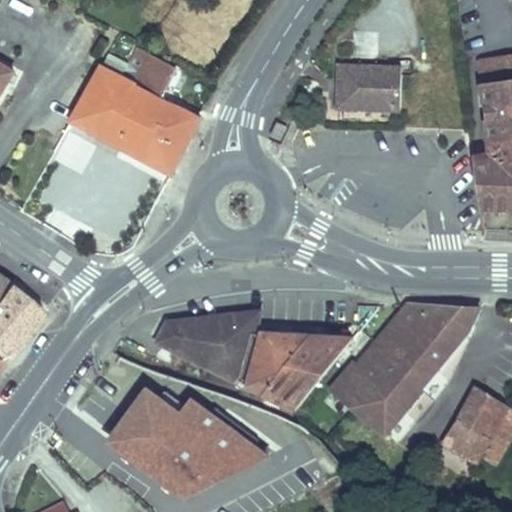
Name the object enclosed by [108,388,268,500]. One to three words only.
building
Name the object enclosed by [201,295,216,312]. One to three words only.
car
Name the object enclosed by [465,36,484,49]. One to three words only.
vehicle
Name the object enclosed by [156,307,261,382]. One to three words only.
house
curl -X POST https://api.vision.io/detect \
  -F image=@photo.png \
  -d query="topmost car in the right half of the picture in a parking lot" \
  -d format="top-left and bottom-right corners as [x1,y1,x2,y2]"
[461,10,480,23]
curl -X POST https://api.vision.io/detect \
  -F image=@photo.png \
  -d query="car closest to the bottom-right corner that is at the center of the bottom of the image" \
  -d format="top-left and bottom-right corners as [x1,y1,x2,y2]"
[295,466,314,486]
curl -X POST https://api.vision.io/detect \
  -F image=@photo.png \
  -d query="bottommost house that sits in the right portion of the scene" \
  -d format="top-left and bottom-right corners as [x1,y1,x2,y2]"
[442,386,512,466]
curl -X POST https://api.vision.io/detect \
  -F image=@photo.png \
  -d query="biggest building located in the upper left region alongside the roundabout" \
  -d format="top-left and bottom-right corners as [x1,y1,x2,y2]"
[70,63,201,180]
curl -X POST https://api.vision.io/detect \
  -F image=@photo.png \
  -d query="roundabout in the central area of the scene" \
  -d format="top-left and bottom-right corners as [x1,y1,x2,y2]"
[186,153,296,261]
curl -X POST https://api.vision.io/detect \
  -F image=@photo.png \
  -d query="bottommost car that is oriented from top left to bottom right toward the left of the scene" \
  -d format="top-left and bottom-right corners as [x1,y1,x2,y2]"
[94,375,117,394]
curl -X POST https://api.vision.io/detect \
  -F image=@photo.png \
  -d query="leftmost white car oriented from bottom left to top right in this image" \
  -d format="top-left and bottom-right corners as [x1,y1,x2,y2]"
[32,332,49,354]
